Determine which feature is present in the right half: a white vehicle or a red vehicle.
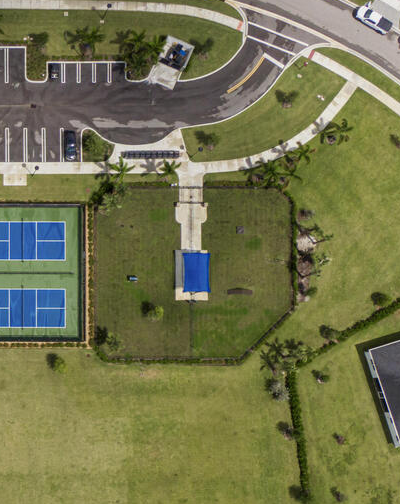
white vehicle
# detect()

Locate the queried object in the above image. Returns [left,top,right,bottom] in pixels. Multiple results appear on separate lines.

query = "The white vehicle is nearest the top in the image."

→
[355,4,395,35]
